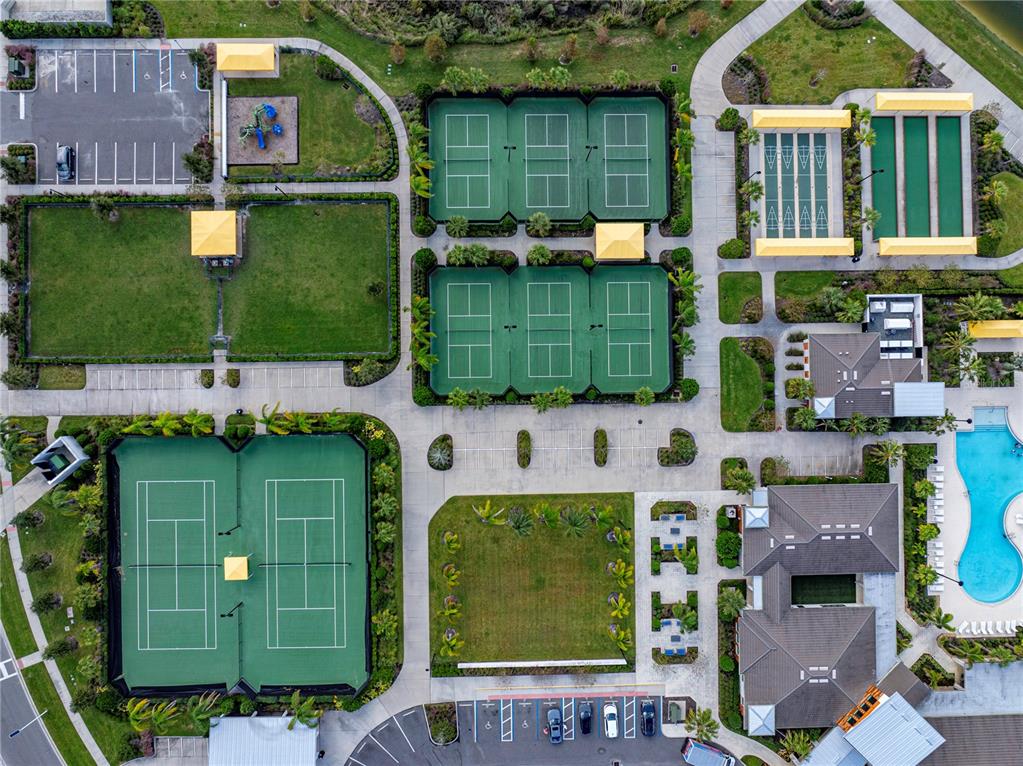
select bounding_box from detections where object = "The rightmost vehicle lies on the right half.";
[674,728,733,766]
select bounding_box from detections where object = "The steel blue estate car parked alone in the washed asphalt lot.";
[55,143,74,178]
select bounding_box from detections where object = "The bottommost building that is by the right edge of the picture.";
[733,483,1023,766]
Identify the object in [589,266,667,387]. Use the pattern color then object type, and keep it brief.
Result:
green sports court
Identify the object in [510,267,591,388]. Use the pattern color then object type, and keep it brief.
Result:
green sports court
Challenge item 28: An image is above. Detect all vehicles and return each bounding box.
[603,700,619,736]
[577,700,593,733]
[639,697,656,735]
[540,705,567,741]
[674,728,733,766]
[55,143,74,178]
